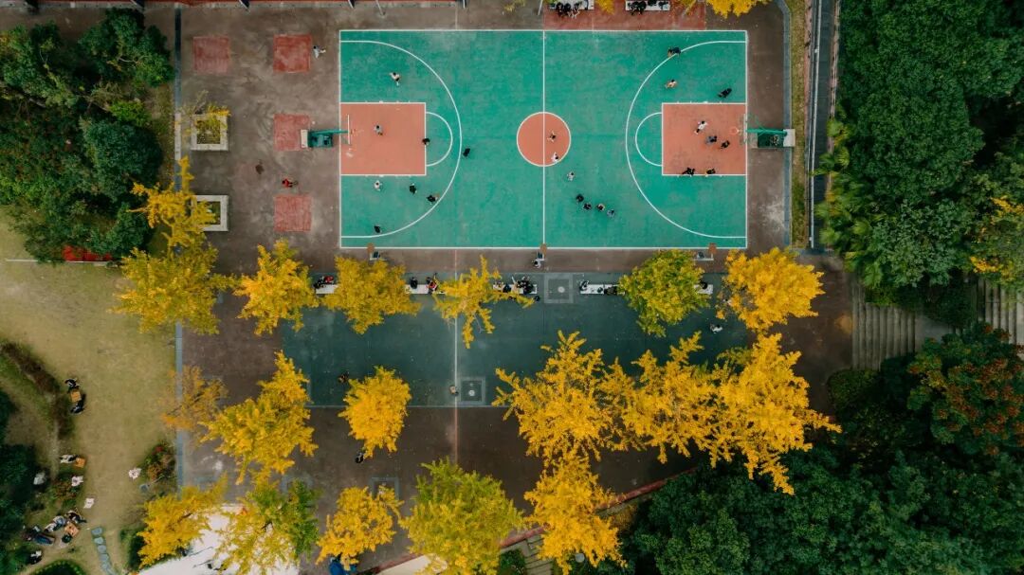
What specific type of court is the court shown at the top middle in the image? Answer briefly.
basketball court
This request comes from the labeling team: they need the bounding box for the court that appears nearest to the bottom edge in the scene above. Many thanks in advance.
[283,273,750,408]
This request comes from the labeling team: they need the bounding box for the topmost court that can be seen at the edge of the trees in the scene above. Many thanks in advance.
[340,30,748,248]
